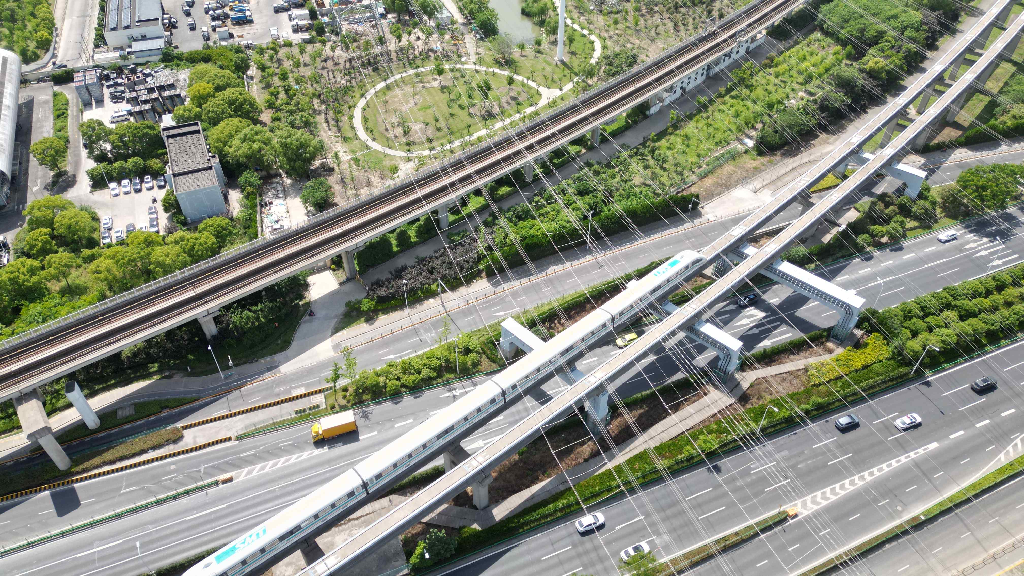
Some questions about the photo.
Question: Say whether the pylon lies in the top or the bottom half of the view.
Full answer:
You can find the pylon in the top half.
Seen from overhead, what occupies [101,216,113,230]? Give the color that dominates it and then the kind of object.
white vehicle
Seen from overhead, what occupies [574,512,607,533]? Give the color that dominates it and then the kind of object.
white car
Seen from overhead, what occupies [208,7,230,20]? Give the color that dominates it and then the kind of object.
gray vehicle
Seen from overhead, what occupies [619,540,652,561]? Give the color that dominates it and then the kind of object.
white car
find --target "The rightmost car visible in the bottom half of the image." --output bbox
[970,378,998,394]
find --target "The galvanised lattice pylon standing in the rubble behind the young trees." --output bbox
[337,0,389,51]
